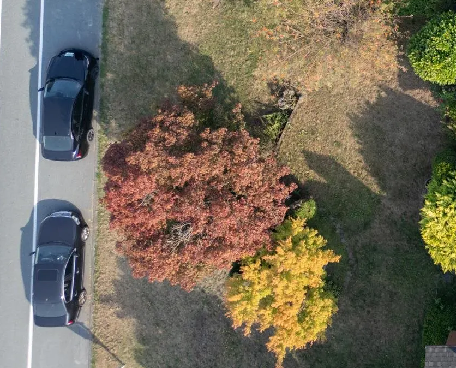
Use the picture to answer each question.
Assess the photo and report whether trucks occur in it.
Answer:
No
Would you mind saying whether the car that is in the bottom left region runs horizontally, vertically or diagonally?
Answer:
vertically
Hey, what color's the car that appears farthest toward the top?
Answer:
black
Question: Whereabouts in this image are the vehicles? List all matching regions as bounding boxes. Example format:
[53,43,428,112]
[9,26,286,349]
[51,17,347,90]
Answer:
[39,47,100,161]
[28,210,89,330]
